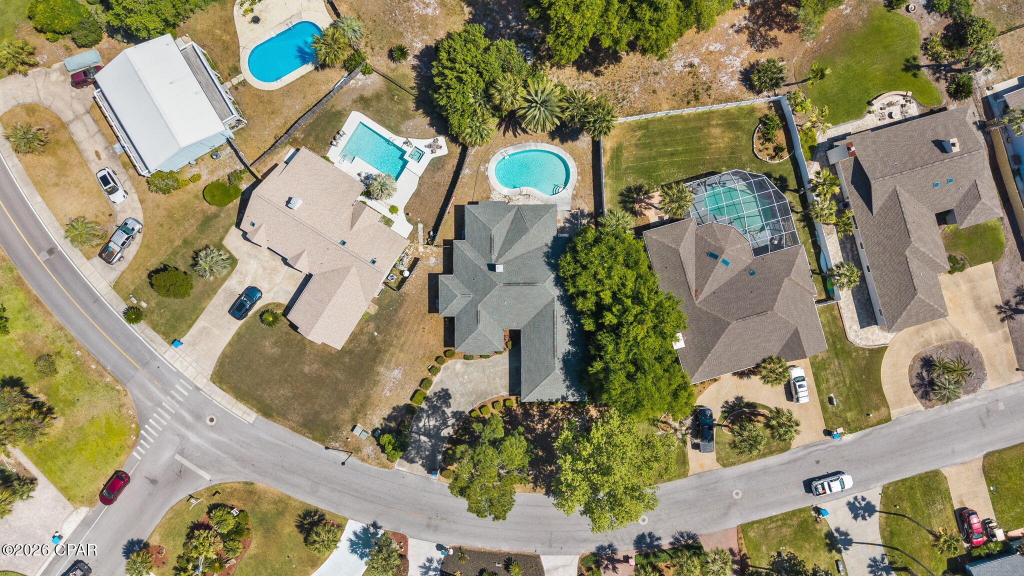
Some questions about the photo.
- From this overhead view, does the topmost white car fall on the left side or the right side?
left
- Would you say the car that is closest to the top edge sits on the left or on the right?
left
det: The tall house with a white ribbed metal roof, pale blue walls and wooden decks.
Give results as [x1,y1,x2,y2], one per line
[89,33,246,177]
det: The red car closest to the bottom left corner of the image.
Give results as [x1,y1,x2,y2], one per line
[101,468,131,506]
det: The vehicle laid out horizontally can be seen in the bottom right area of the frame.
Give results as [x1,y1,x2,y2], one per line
[809,473,856,498]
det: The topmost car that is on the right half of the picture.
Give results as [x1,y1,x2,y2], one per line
[788,365,811,406]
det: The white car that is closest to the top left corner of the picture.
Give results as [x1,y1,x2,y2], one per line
[97,167,128,206]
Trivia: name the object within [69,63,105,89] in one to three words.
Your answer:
car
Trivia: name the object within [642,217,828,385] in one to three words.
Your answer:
house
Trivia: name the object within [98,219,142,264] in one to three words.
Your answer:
truck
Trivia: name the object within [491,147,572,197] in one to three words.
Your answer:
swimming pool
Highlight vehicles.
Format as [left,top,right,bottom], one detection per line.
[69,558,94,576]
[97,167,128,206]
[101,468,131,506]
[696,405,716,453]
[987,520,1012,544]
[809,473,856,498]
[69,63,105,89]
[788,365,811,406]
[98,219,142,264]
[228,285,263,322]
[959,508,986,548]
